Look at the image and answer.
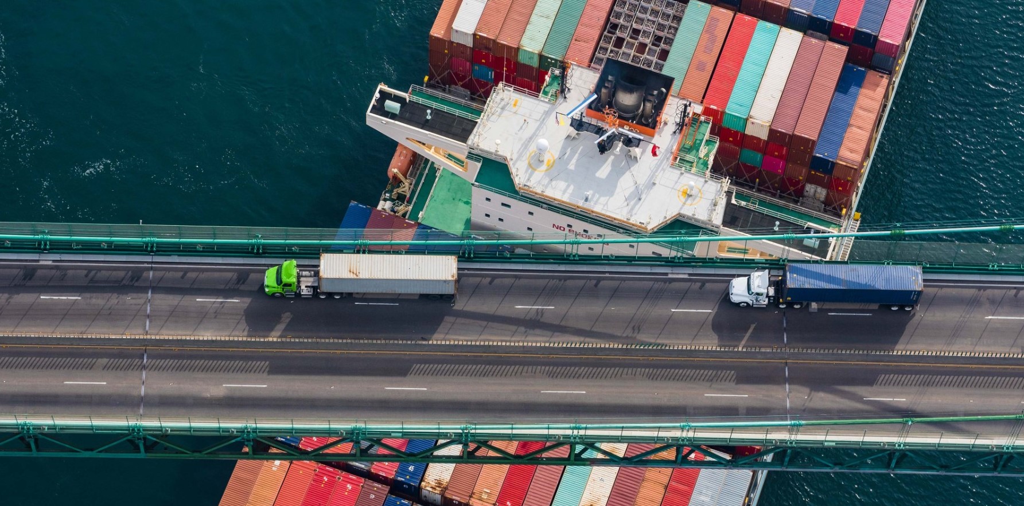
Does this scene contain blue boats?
No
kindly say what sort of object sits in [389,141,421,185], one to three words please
boat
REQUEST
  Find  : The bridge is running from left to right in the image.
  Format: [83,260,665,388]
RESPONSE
[0,215,1024,476]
